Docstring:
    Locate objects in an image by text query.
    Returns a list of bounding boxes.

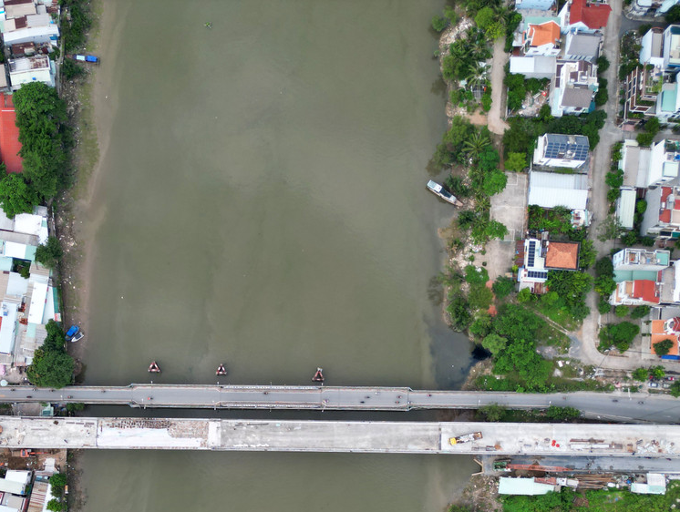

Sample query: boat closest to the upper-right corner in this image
[427,177,463,204]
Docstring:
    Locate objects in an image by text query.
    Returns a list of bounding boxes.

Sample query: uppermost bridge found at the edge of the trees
[0,383,554,411]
